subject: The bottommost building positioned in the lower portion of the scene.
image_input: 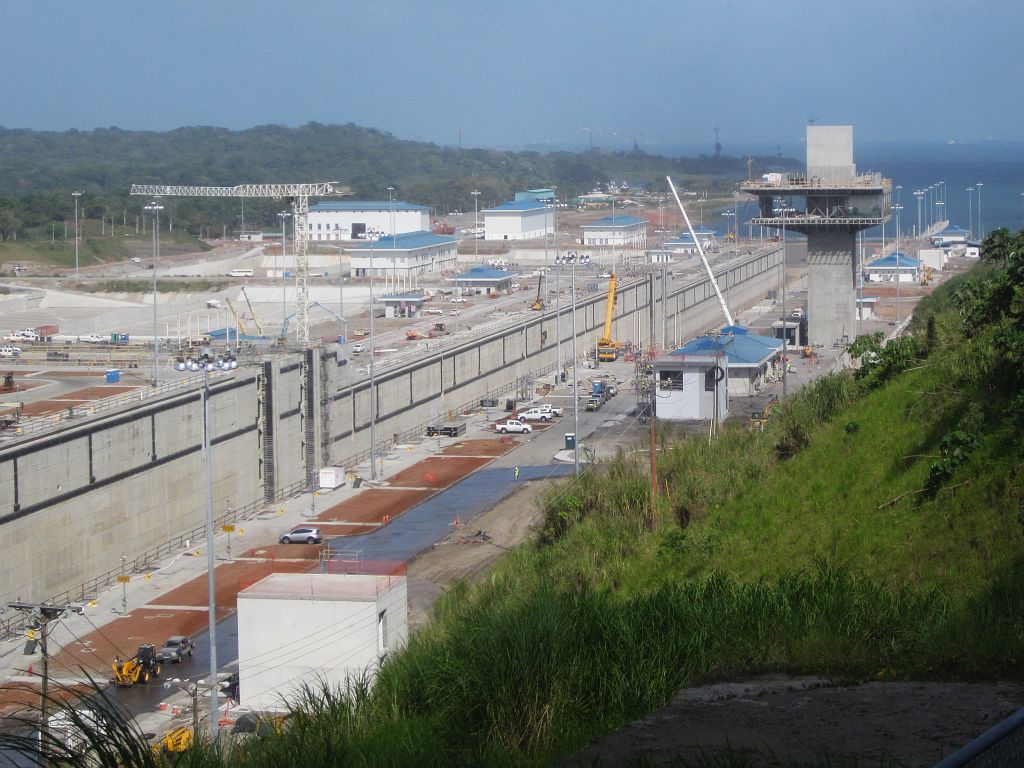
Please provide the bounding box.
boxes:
[222,576,408,715]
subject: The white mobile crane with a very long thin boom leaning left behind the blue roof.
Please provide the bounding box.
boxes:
[666,175,732,331]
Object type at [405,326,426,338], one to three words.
vehicle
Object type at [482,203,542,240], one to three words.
building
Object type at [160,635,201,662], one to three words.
truck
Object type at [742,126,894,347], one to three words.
building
